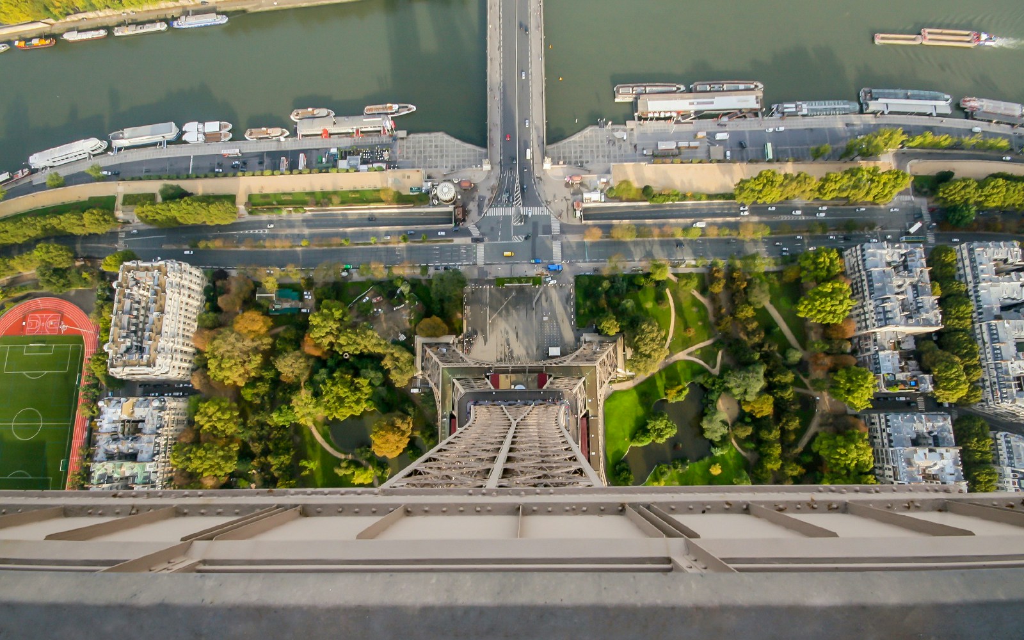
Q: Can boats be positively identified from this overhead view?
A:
Yes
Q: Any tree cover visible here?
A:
Yes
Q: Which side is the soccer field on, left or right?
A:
left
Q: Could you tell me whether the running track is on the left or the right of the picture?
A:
left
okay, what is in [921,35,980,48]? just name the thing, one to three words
ship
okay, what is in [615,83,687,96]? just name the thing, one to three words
boat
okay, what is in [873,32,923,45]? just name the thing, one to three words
ship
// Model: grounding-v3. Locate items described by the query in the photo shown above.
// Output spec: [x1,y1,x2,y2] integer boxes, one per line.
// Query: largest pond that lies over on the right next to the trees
[622,382,711,488]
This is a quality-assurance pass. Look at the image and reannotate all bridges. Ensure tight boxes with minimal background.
[487,0,547,178]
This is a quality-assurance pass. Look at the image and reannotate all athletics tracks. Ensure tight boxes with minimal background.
[0,301,104,492]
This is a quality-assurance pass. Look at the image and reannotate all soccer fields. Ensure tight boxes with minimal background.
[0,338,91,492]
